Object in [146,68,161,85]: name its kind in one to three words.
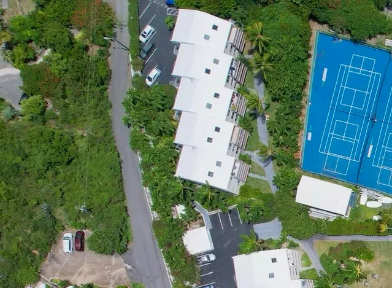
car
